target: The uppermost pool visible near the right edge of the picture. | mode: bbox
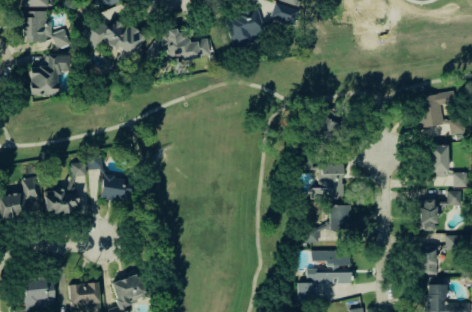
[448,212,463,229]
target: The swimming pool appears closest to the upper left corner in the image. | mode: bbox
[52,14,66,28]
